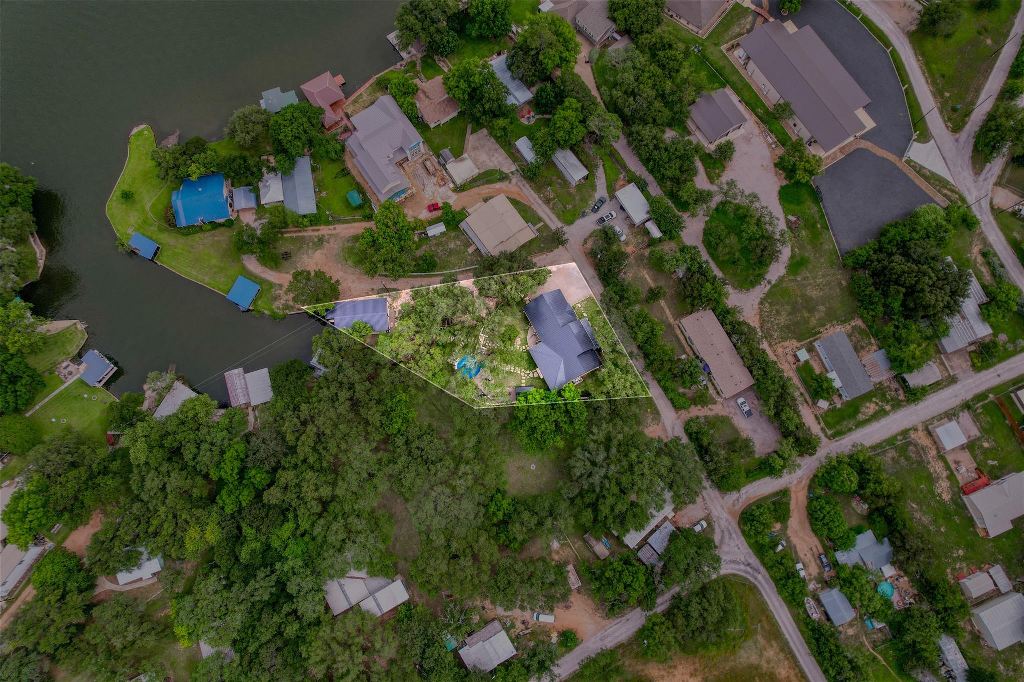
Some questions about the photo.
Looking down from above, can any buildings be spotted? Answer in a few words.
Yes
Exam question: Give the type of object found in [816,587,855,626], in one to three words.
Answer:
barn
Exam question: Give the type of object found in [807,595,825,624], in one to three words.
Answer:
boat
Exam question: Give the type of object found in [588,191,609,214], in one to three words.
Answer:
truck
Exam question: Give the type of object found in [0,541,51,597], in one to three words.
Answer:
building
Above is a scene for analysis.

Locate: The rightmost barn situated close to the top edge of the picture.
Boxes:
[736,20,872,159]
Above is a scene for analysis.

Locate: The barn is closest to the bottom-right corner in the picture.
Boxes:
[966,590,1024,650]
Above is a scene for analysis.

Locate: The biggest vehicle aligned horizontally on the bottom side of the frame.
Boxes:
[532,612,557,624]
